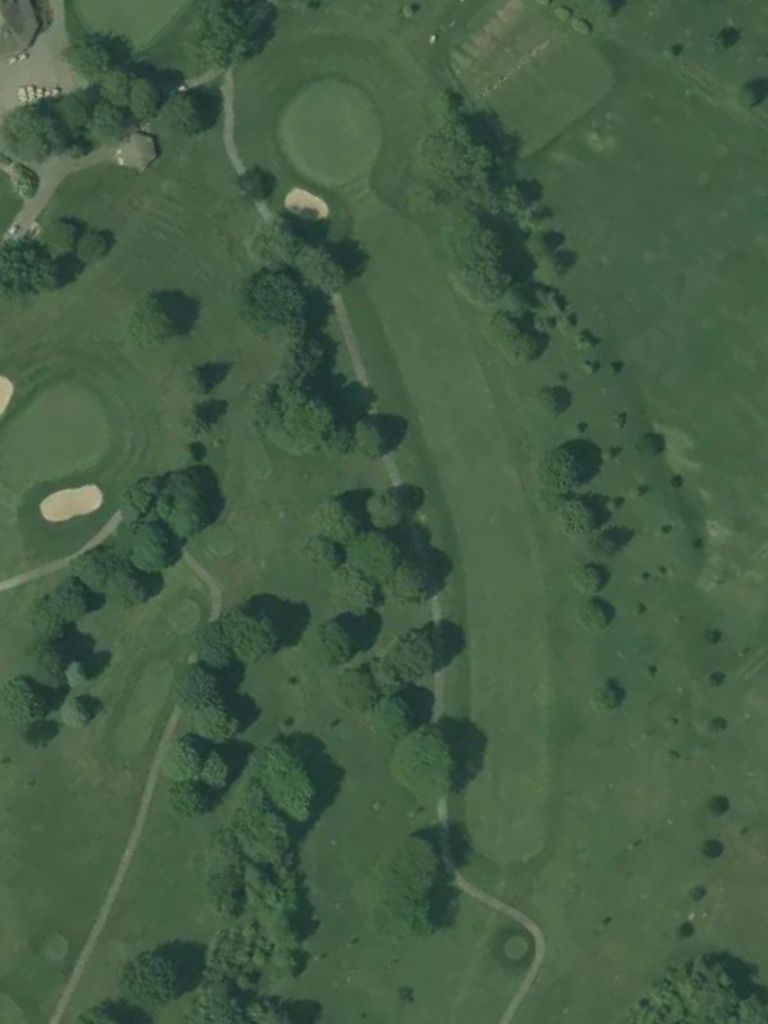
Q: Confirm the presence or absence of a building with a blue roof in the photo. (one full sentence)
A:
No, there appears to be no building with a blue roof in this shot.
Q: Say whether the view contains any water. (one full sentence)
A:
No, no water is visible.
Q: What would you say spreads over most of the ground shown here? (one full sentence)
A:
Most of the picture is covered by grass.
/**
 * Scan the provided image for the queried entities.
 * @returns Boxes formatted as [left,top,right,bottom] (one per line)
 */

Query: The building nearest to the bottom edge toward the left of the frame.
[124,131,156,171]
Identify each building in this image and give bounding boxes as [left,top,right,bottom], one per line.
[124,131,156,171]
[0,0,38,54]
